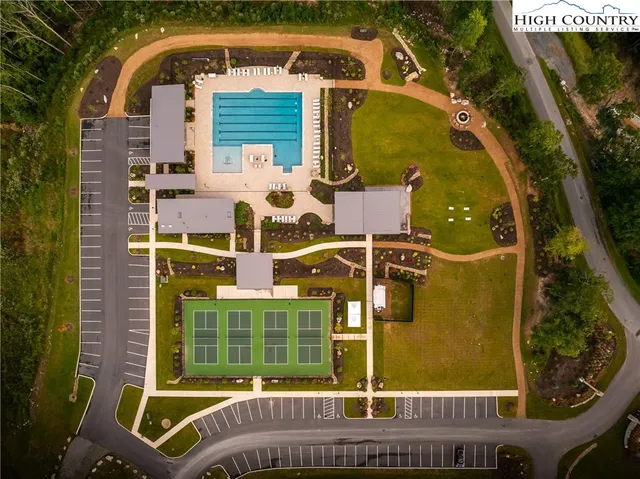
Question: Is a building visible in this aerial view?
Yes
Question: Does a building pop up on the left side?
Yes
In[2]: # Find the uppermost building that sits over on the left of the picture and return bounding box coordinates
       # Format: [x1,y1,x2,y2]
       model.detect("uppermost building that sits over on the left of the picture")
[151,84,187,164]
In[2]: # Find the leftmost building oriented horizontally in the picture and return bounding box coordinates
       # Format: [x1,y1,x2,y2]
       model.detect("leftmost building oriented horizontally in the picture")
[157,198,236,233]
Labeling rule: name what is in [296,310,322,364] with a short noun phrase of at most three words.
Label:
sports court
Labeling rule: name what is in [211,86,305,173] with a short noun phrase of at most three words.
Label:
swimming pool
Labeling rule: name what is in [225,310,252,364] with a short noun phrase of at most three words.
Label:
sports court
